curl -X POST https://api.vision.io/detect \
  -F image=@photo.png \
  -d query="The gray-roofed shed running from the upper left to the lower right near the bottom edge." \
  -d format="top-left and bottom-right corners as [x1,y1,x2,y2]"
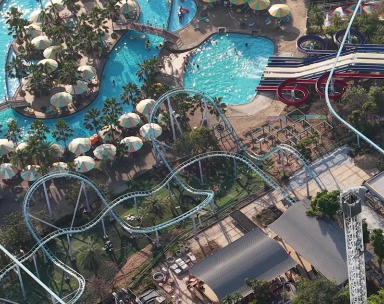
[268,200,356,304]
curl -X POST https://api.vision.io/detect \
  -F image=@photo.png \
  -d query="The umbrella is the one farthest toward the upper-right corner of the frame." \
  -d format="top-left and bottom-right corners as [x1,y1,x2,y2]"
[268,5,291,22]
